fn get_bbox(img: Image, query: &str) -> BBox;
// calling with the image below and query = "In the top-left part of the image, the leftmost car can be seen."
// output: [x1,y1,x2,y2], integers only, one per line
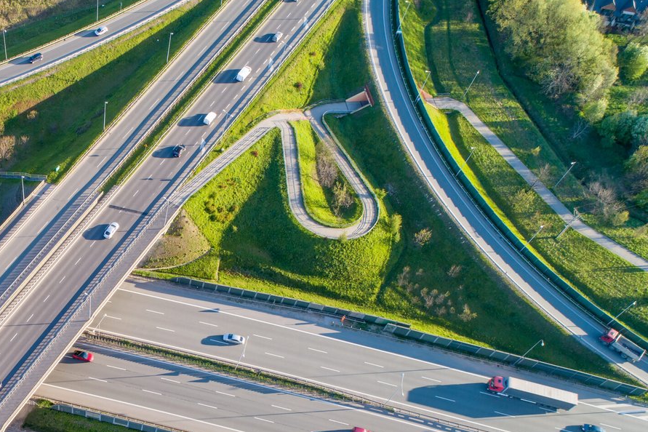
[27,52,44,65]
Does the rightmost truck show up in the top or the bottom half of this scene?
bottom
